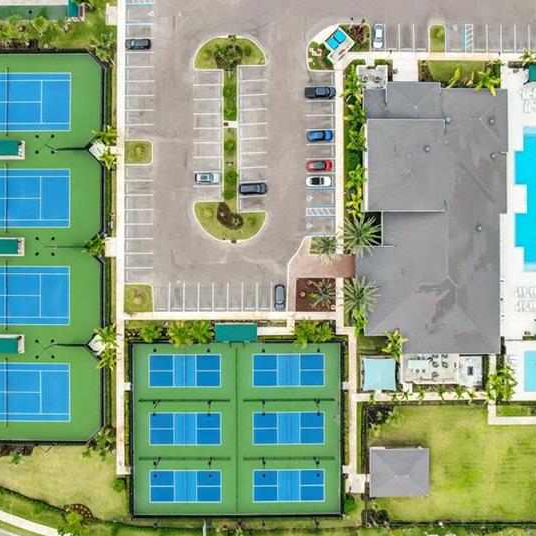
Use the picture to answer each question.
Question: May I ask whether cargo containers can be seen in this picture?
No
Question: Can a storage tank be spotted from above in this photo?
No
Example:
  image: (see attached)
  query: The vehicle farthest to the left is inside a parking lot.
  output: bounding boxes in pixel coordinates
[125,37,152,50]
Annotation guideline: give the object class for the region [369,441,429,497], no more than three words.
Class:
building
